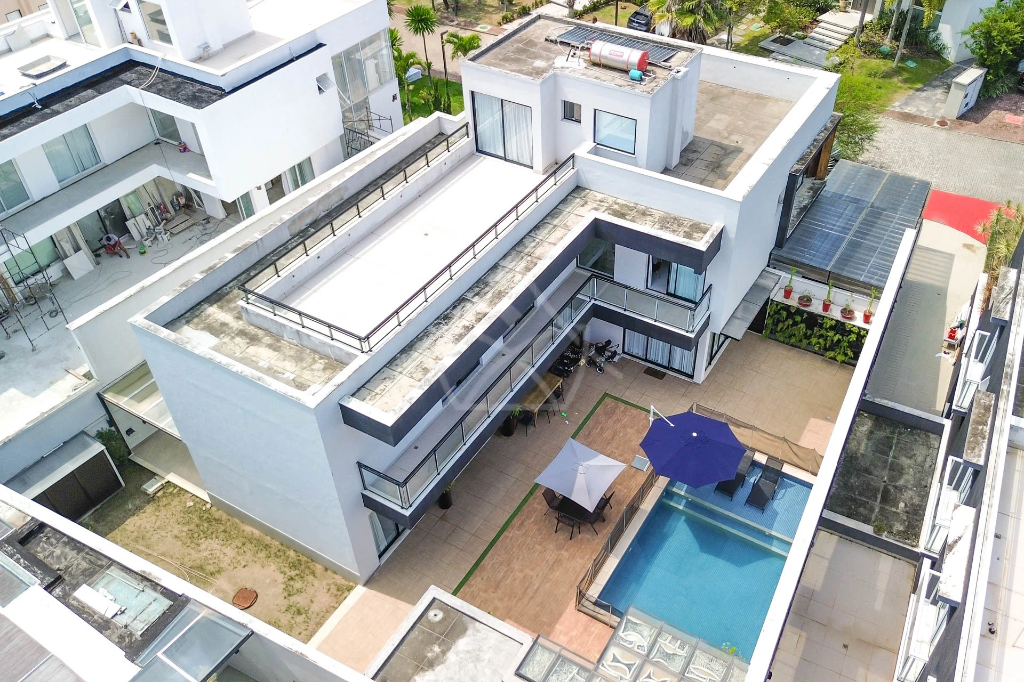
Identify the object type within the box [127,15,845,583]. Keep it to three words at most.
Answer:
house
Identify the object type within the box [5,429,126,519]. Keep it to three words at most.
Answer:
shed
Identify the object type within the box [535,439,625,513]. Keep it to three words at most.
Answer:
umbrella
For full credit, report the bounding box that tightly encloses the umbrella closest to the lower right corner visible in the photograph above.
[631,400,747,489]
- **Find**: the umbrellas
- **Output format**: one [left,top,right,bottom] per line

[631,400,747,489]
[535,439,625,513]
